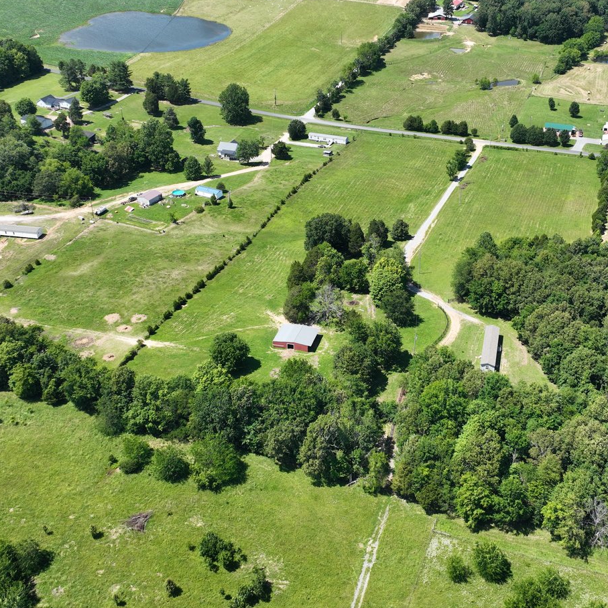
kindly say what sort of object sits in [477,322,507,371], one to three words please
house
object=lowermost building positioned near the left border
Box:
[0,223,44,238]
